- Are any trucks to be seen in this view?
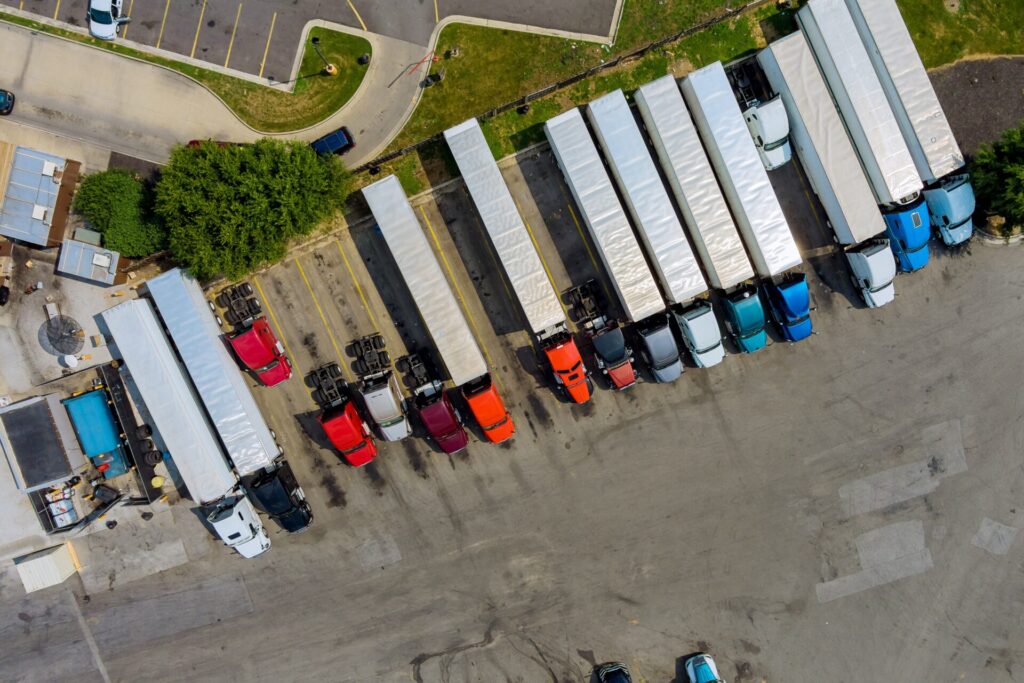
Yes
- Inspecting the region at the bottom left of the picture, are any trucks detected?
Yes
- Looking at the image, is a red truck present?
Yes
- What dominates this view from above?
paved ground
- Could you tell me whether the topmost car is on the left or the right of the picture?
left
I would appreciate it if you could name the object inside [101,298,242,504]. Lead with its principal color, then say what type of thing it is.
white trailer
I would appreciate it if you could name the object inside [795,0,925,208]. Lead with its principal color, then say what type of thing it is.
white trailer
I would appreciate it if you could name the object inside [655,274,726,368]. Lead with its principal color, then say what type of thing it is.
white truck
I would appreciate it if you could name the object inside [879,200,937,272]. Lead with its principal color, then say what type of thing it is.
blue truck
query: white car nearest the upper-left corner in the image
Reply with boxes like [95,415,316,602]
[92,0,134,43]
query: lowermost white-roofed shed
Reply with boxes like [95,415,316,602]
[16,541,81,593]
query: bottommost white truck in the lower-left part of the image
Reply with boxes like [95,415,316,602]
[211,477,273,557]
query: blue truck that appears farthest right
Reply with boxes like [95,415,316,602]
[923,174,979,247]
